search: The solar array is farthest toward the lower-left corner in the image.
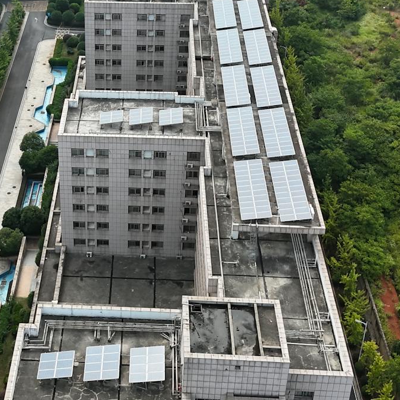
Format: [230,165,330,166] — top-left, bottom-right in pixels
[38,352,74,388]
